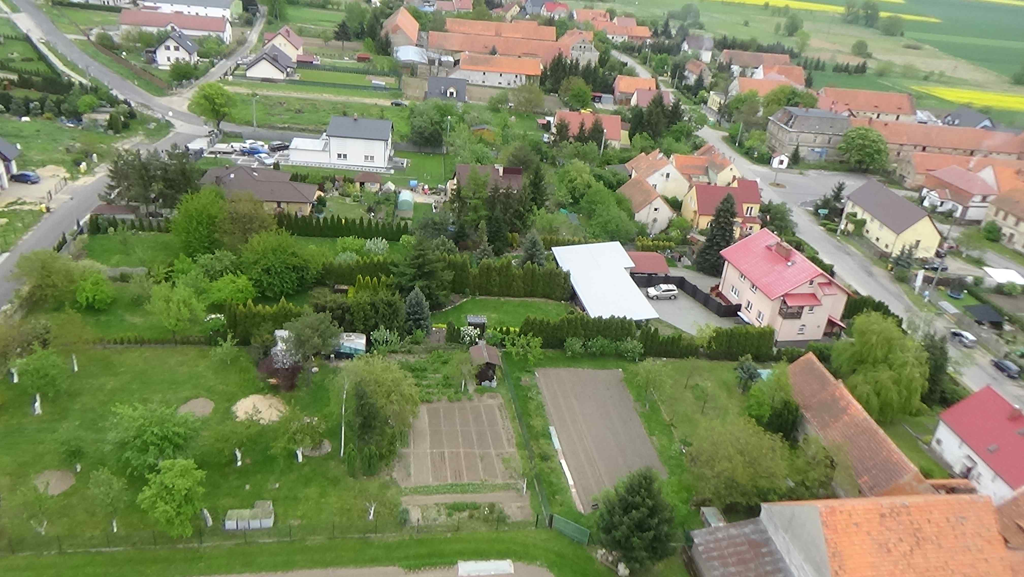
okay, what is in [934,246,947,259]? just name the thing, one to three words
vehicle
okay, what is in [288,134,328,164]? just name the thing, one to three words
building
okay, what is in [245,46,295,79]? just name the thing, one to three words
house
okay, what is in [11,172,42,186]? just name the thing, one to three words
car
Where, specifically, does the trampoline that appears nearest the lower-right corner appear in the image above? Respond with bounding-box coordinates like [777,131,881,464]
[944,286,970,301]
